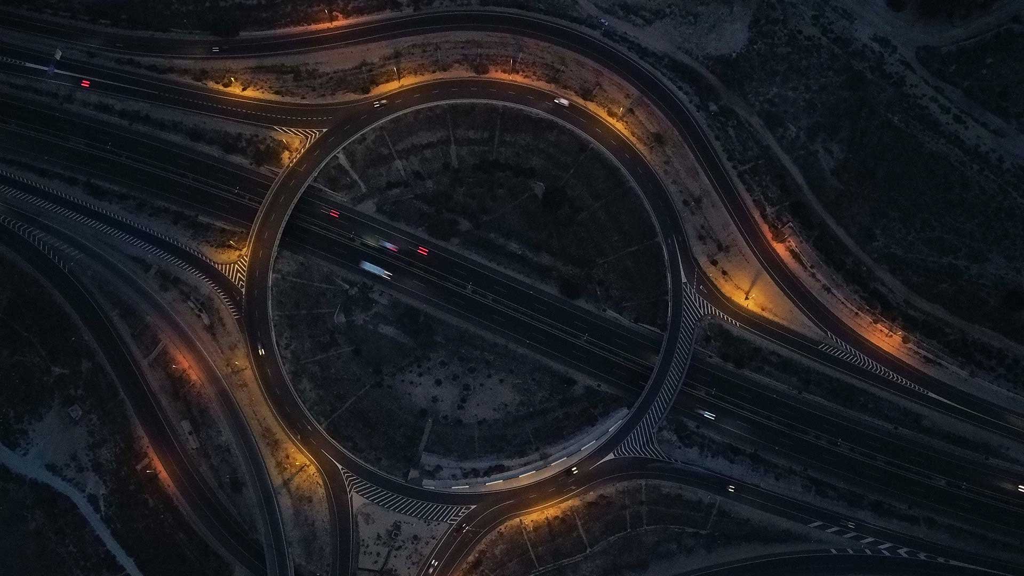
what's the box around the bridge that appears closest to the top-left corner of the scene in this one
[245,143,328,265]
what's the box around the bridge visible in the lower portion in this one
[618,321,700,460]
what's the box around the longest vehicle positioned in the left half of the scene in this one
[360,260,391,278]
